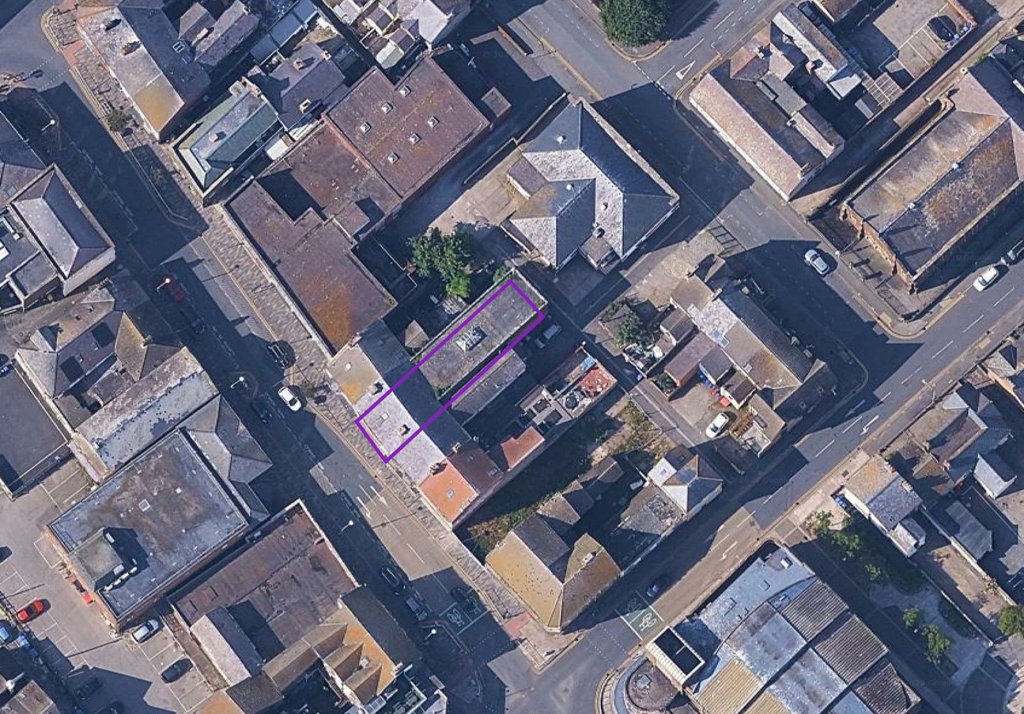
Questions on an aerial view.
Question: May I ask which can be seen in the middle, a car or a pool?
car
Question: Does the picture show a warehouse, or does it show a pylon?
warehouse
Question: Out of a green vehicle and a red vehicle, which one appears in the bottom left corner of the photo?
red vehicle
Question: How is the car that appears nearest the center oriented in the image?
diagonally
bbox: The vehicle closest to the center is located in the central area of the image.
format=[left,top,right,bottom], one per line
[531,319,564,351]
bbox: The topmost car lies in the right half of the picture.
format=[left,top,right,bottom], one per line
[929,13,957,46]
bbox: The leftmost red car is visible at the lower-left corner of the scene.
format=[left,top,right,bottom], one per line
[15,597,46,623]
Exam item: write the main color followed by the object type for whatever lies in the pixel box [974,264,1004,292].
white car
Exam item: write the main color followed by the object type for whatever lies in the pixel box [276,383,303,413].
white car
